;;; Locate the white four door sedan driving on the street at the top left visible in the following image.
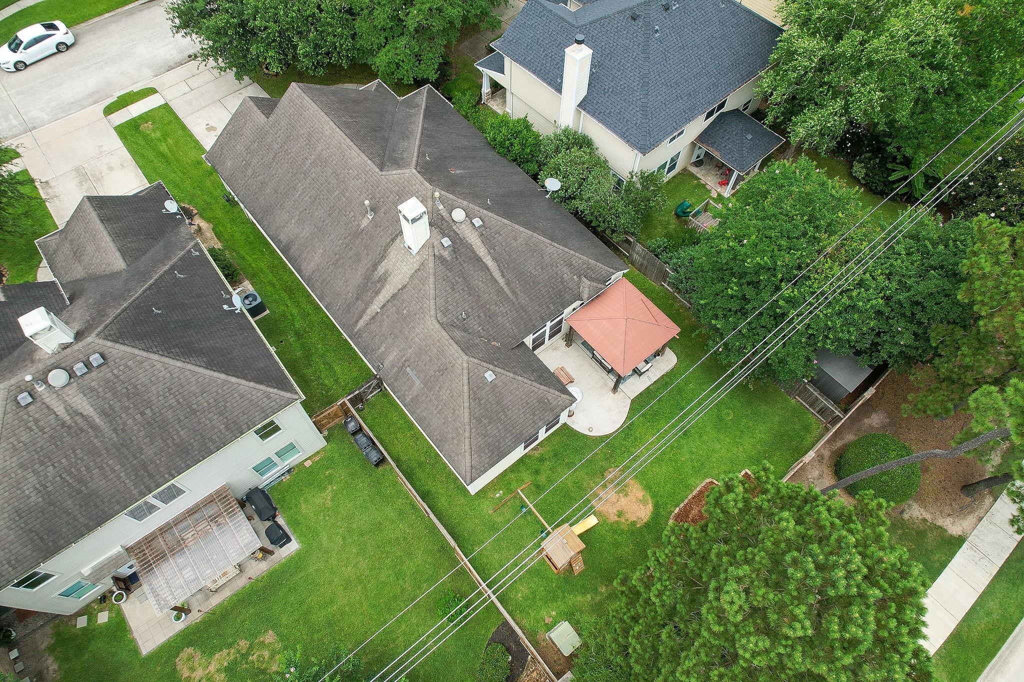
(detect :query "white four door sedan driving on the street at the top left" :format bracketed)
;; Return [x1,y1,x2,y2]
[0,17,72,67]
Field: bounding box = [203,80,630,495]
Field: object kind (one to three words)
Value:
house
